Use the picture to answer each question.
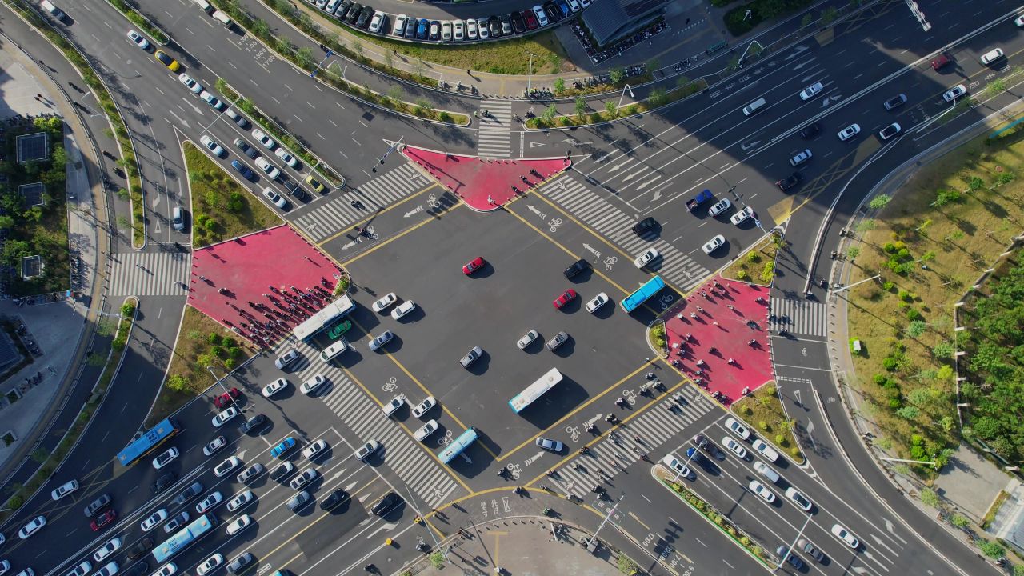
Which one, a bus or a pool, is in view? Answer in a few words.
bus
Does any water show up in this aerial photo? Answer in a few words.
No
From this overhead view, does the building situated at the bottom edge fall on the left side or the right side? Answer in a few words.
right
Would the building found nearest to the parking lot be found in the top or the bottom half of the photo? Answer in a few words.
top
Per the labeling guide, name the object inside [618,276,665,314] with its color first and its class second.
blue bus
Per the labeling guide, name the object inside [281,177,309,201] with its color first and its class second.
black truck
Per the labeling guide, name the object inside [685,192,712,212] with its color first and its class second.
blue vehicle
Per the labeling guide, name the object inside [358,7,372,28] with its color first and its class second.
black car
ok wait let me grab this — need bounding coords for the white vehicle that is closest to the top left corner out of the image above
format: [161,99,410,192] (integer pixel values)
[40,0,66,21]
